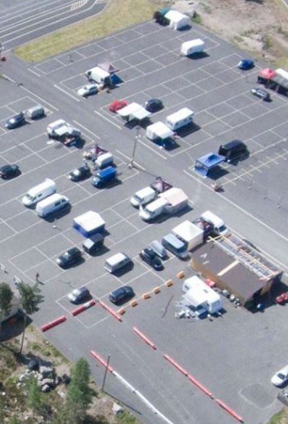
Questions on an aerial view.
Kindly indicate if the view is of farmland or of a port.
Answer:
farmland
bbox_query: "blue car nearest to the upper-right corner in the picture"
[236,58,257,72]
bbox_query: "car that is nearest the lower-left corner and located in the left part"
[64,285,96,304]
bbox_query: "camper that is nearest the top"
[181,35,207,55]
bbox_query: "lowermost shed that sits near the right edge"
[185,228,288,311]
